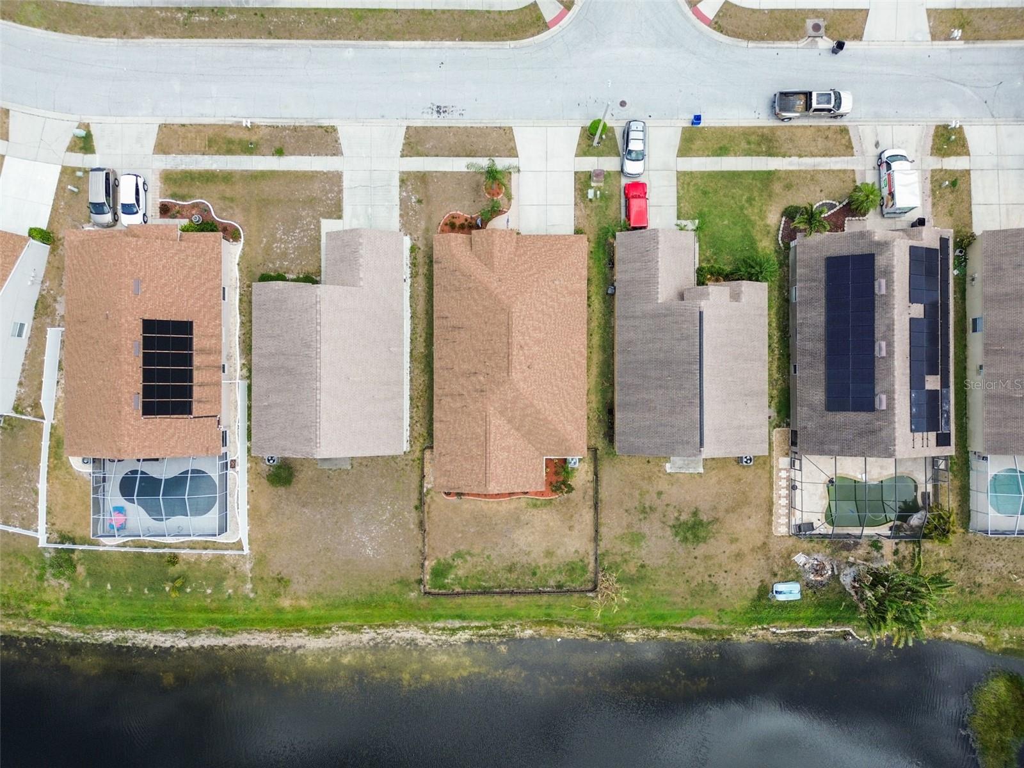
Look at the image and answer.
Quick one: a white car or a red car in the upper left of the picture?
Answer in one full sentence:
It is a white car that can be seen in the upper left of the picture.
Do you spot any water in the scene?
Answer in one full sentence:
Yes, water can be seen from above here.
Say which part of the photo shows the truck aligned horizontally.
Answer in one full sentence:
The truck aligned horizontally sits in the top right section of the image.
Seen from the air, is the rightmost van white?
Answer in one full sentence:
Yes, the rightmost van is indeed white.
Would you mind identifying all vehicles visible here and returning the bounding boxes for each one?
[87,167,121,229]
[118,173,149,228]
[624,180,649,230]
[622,121,649,179]
[769,86,848,120]
[879,148,921,217]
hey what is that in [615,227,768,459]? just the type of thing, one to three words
house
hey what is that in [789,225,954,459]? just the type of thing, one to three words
house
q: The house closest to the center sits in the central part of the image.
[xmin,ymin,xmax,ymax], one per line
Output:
[433,228,588,498]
